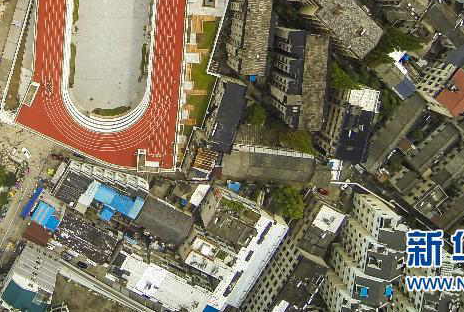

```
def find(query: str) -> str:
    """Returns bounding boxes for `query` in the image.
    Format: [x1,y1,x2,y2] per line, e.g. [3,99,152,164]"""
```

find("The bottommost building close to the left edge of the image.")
[2,279,52,312]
